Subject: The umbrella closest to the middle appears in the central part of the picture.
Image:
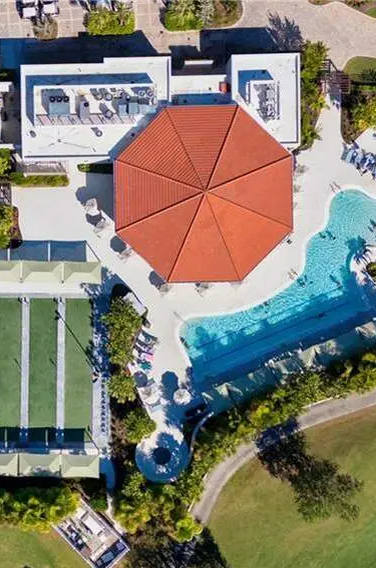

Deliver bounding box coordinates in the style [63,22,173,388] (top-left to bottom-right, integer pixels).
[160,281,176,295]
